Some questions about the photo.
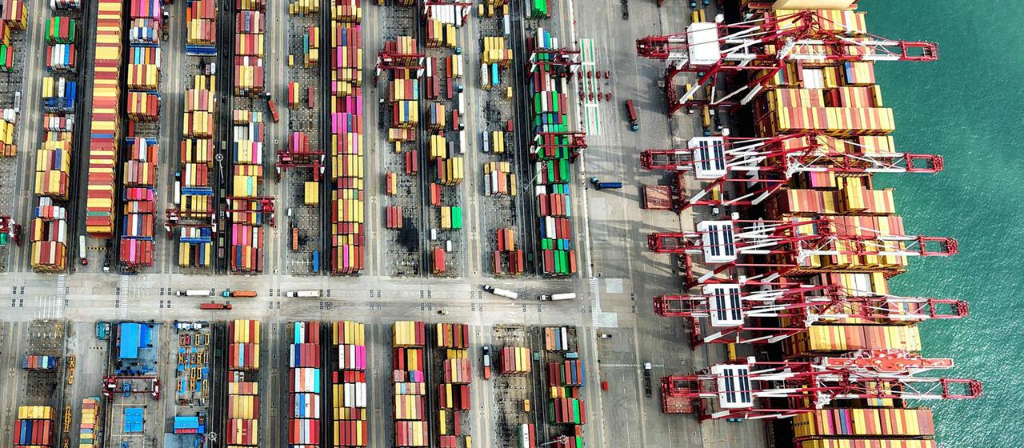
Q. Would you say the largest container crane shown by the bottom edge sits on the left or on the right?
right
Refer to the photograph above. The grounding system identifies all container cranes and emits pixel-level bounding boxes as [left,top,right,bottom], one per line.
[652,274,972,354]
[372,52,425,91]
[102,375,161,405]
[659,353,987,428]
[524,48,582,88]
[418,0,472,30]
[638,127,948,217]
[164,210,218,244]
[225,195,276,230]
[629,12,929,117]
[276,149,327,186]
[528,131,589,168]
[646,212,962,294]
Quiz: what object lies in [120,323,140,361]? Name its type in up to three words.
building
